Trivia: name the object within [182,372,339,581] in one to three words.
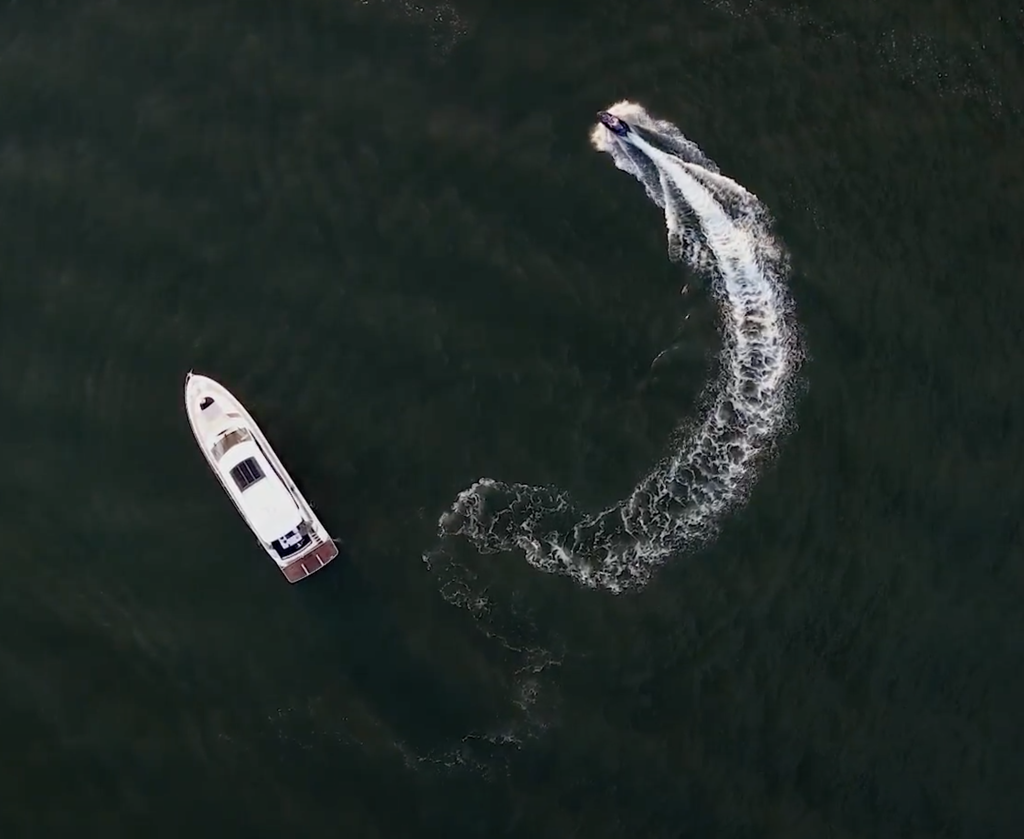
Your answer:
boat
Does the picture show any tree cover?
No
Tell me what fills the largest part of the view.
water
